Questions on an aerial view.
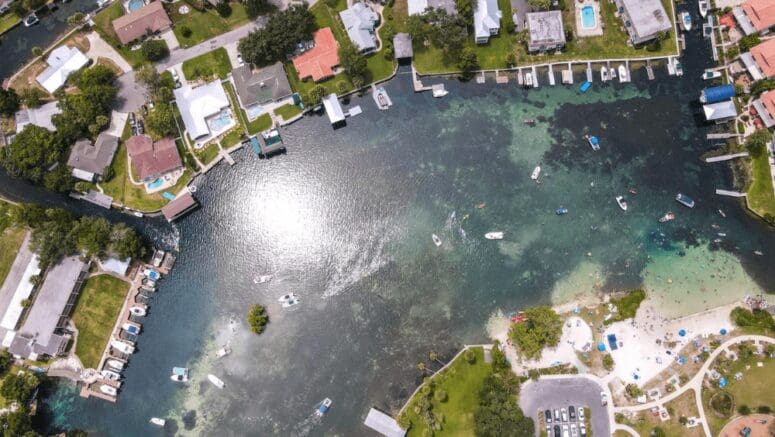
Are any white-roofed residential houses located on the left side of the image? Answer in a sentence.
Yes, a white-roofed residential house shows up on the left side of the image.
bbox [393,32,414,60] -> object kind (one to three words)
building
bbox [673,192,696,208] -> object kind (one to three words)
boat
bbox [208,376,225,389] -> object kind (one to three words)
boat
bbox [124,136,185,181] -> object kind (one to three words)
house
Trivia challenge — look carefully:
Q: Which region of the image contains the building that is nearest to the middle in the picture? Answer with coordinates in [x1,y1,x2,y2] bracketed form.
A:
[322,93,345,125]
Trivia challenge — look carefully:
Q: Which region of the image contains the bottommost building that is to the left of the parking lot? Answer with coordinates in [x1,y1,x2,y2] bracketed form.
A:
[363,404,403,437]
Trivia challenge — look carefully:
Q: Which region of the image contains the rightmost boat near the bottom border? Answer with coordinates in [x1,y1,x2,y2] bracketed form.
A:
[315,401,328,416]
